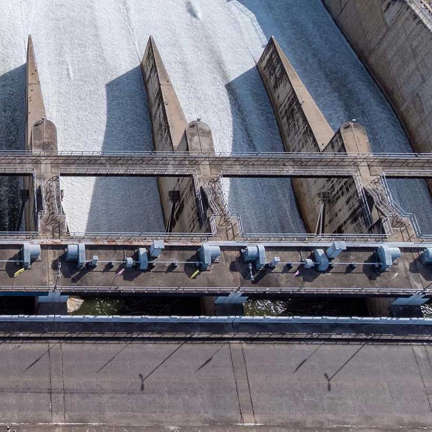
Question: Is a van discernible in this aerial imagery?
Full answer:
No, there's no van here.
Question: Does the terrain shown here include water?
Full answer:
Yes, there's water in this view.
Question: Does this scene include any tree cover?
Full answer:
No, the picture contains no tree cover.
